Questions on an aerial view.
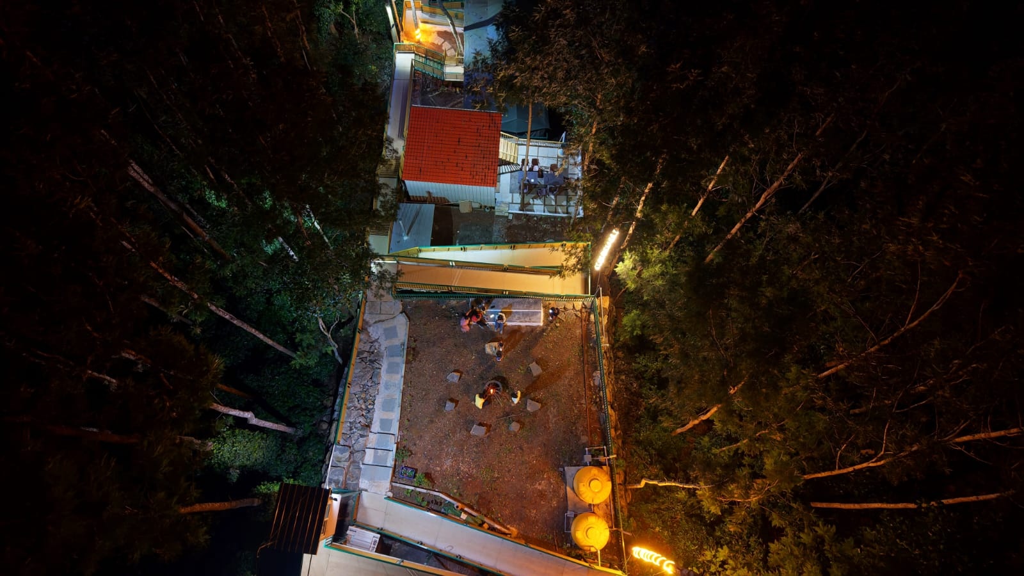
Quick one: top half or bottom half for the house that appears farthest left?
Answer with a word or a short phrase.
bottom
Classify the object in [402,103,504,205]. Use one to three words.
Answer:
building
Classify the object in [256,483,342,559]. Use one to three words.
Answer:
house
